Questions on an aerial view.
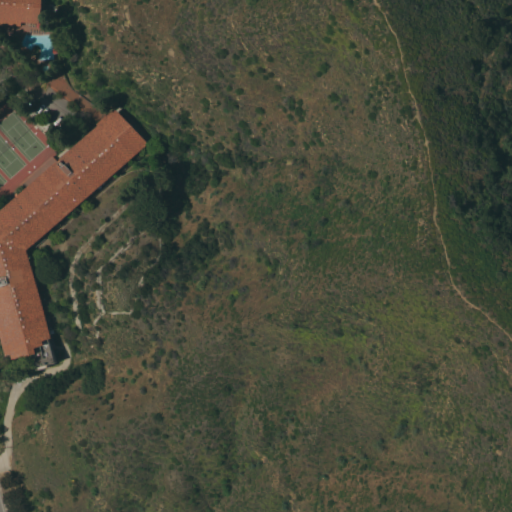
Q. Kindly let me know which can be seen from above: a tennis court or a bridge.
tennis court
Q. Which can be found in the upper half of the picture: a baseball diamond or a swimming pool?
swimming pool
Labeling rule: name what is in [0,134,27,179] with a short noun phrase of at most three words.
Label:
tennis court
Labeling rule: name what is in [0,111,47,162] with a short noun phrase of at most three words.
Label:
tennis court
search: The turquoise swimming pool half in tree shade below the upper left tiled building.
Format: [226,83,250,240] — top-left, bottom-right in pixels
[22,34,55,62]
